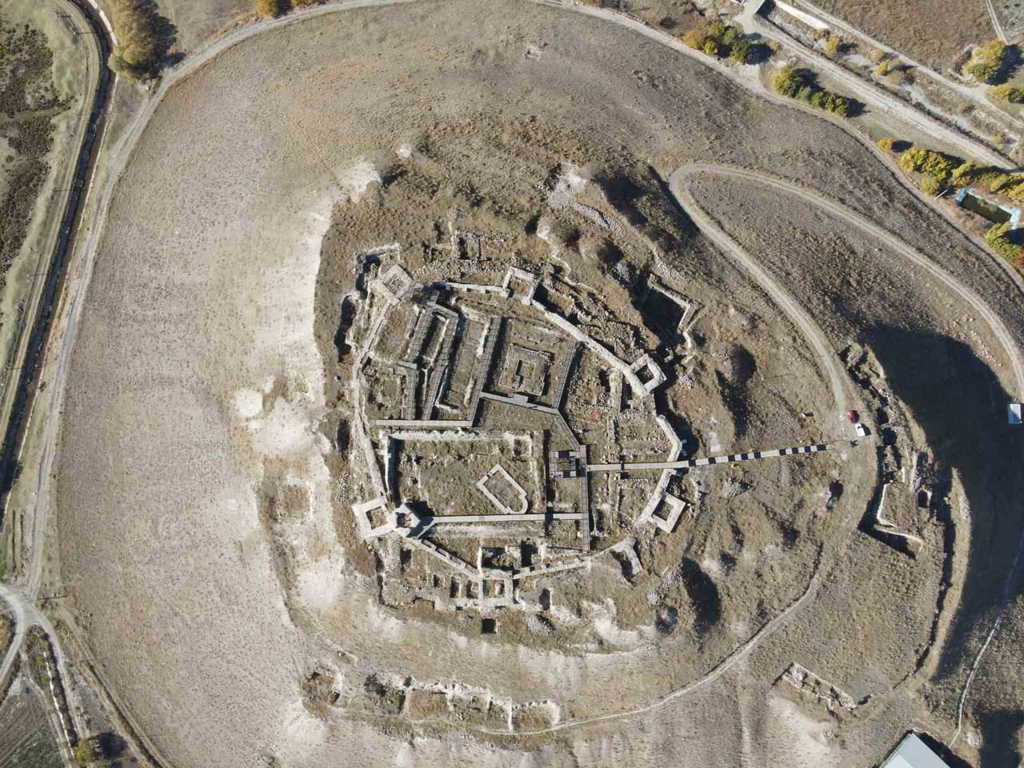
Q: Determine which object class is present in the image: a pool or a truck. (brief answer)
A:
pool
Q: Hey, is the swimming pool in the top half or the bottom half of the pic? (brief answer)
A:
top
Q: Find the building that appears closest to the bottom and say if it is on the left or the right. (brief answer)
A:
right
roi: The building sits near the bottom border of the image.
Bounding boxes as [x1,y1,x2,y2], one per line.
[877,731,952,768]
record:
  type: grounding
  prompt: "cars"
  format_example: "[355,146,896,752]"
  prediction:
[848,409,857,423]
[856,423,866,437]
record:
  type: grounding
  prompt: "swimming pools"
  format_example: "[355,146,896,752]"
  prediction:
[961,190,1013,226]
